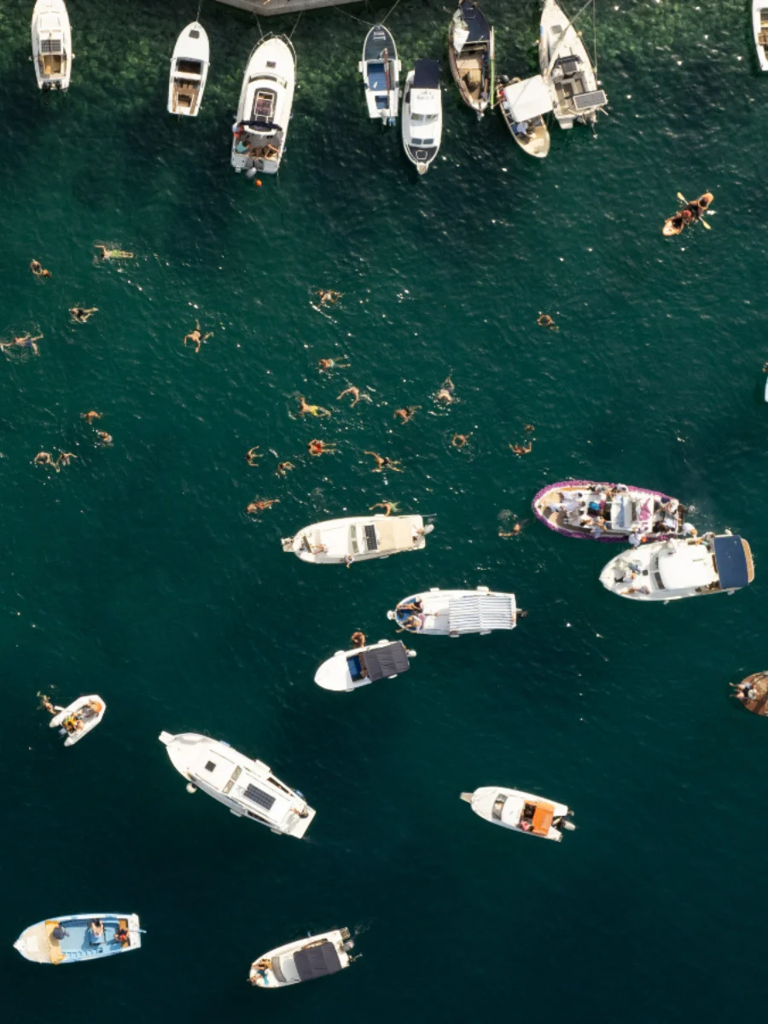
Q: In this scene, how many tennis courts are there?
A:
zero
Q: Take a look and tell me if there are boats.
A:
Yes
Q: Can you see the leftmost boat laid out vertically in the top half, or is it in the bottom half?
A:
top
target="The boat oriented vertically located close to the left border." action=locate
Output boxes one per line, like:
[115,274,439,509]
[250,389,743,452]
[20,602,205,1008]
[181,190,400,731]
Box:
[30,0,73,96]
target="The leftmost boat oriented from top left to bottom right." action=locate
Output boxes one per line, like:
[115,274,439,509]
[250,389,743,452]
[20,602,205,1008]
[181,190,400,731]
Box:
[159,731,318,839]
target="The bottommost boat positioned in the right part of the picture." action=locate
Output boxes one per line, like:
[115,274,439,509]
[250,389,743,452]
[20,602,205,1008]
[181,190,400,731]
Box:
[460,787,575,841]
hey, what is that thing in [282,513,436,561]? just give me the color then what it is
white boat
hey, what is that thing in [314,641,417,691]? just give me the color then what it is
white boat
